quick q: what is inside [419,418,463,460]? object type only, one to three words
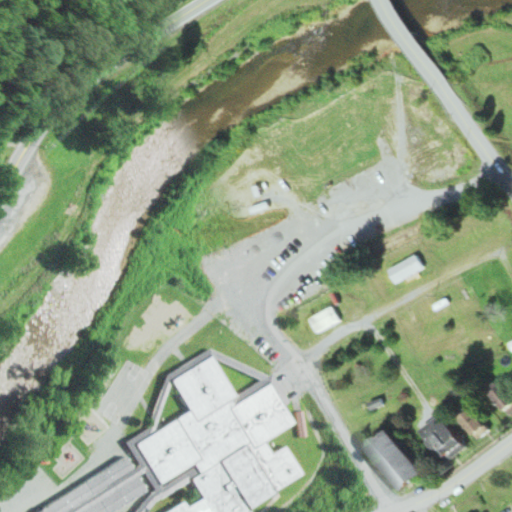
house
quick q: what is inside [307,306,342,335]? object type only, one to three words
building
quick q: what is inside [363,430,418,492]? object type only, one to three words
building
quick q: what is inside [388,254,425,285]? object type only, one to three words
barn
